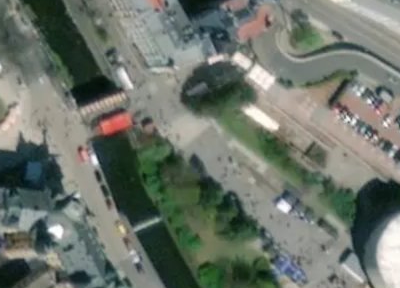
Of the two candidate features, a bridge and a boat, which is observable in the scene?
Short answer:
bridge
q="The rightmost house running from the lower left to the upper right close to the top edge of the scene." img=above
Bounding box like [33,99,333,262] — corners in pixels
[234,2,273,45]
